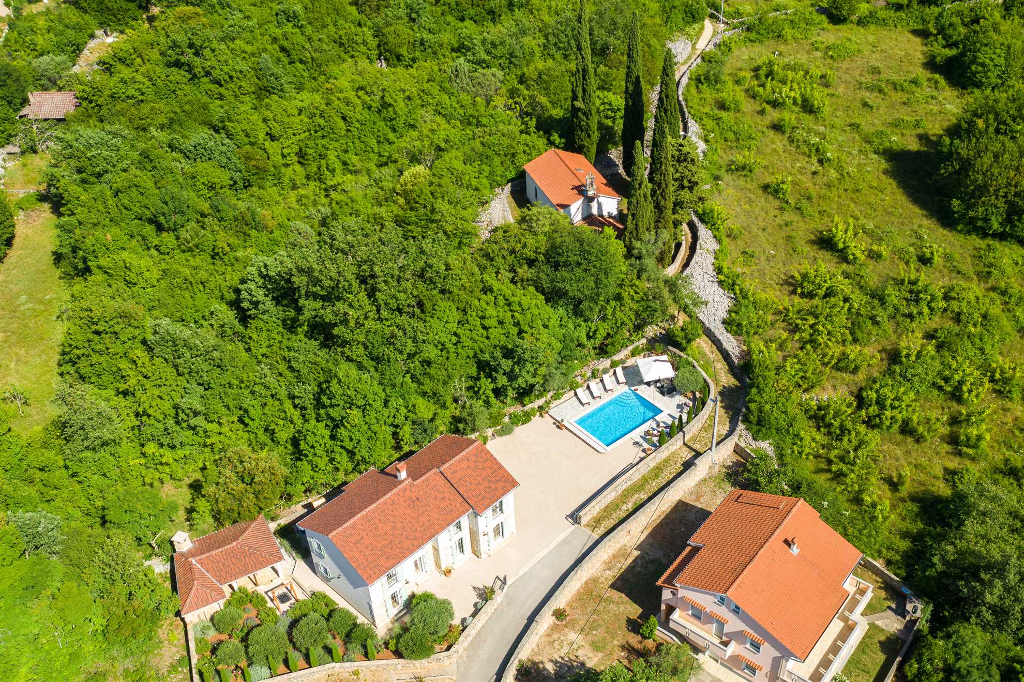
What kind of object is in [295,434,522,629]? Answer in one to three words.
house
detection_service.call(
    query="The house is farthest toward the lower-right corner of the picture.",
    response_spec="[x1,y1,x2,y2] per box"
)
[653,490,879,682]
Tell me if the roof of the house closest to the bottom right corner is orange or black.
orange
